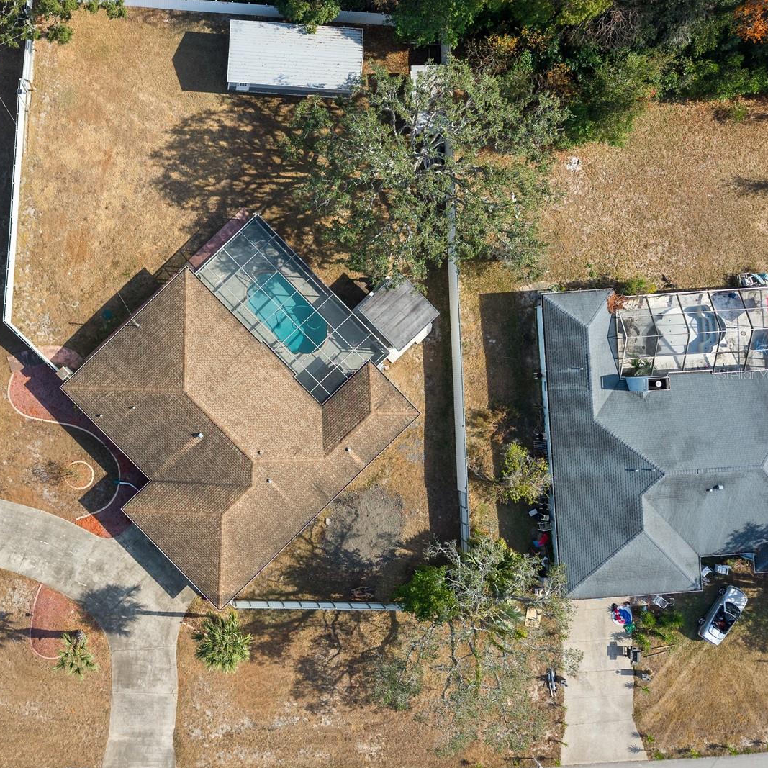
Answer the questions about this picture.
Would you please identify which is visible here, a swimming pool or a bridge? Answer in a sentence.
I can see a swimming pool in this picture.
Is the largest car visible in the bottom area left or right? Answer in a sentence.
The largest car visible in the bottom area is on the right side of the image.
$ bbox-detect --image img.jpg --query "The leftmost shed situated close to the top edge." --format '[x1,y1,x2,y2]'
[227,19,363,101]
